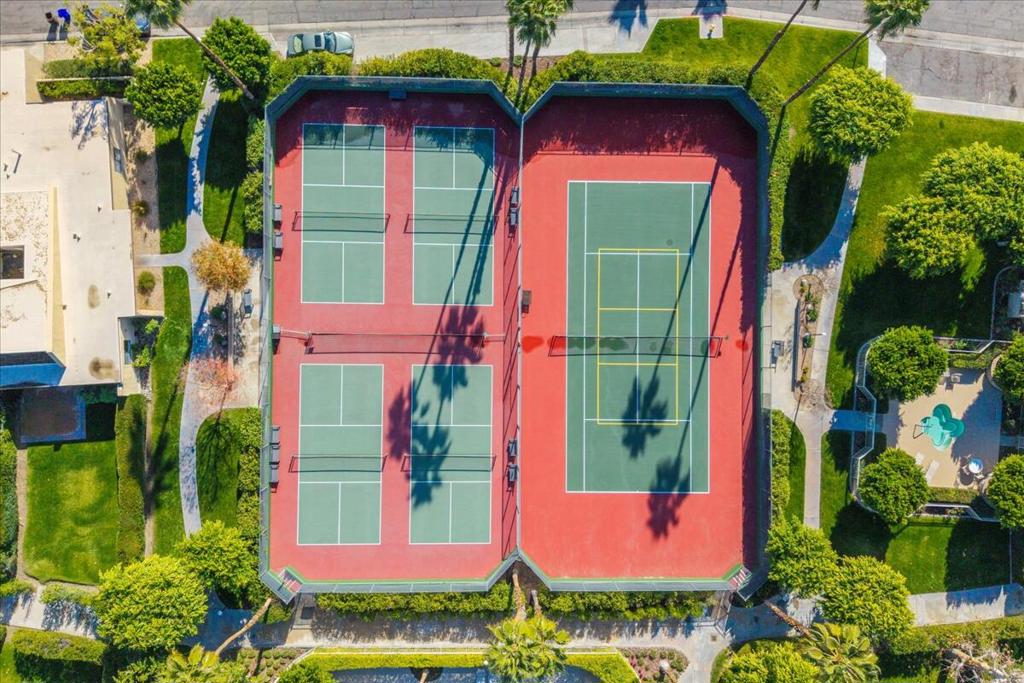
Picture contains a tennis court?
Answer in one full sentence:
Yes, the picture does show a tennis court.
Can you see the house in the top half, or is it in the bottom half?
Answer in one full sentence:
The house sits in the top half of the picture.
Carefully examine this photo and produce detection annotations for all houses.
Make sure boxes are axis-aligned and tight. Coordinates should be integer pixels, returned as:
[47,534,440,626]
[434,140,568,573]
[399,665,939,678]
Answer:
[0,48,138,389]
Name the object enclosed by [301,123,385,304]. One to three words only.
sports court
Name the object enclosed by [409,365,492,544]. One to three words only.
sports court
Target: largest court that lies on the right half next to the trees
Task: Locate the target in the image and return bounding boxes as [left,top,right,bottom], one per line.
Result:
[518,96,756,580]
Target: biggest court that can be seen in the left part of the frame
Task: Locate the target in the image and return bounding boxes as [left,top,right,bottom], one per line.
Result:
[270,90,521,580]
